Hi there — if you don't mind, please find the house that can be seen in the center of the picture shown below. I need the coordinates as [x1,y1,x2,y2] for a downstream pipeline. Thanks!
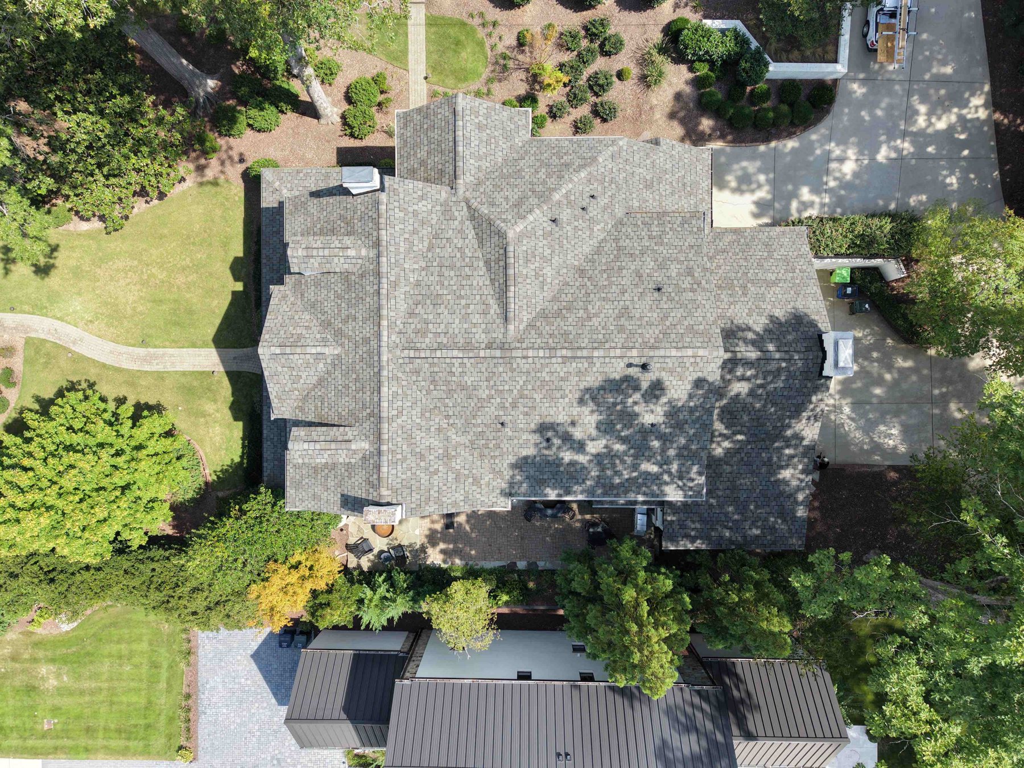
[259,93,854,550]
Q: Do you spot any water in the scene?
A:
No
